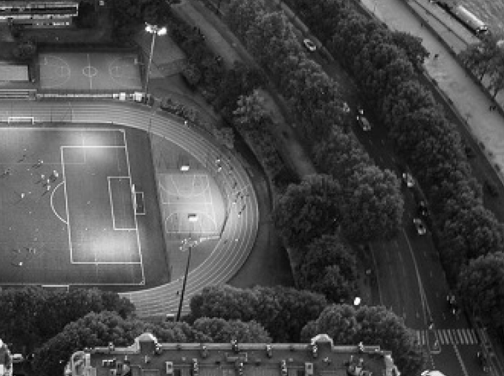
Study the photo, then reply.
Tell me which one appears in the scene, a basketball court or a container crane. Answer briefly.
basketball court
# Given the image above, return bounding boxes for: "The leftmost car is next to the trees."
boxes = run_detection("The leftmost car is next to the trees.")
[303,37,316,49]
